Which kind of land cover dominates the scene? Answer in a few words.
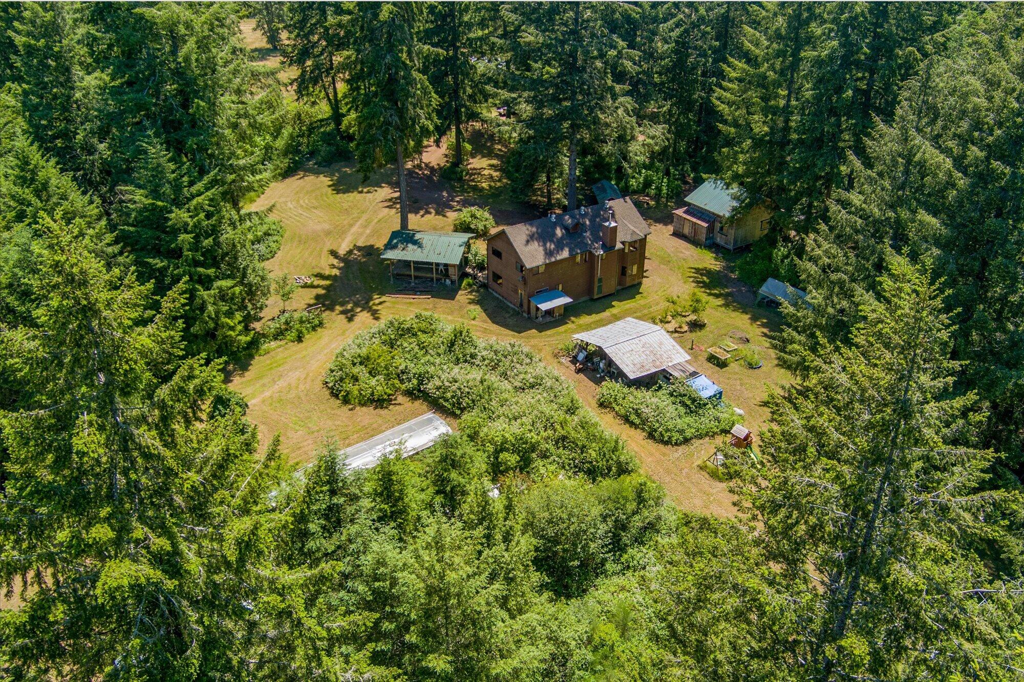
trees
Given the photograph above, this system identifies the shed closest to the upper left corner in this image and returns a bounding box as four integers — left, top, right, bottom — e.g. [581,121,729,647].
[381,227,476,289]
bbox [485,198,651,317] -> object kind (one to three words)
house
